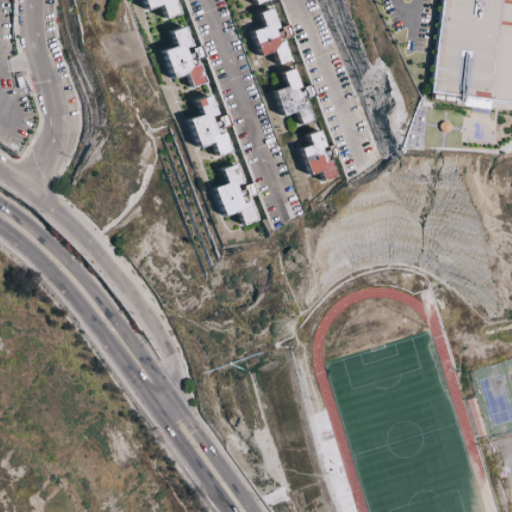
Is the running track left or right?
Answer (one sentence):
You can find the running track on the right side of the picture.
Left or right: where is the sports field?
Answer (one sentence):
It is on the right.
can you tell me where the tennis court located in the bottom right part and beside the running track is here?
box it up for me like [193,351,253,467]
[472,360,512,436]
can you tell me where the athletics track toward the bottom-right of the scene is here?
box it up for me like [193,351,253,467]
[314,276,496,512]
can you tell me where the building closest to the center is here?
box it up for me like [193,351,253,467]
[211,164,260,226]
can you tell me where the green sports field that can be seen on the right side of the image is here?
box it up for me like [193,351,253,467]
[327,332,483,512]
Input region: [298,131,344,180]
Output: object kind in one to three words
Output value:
building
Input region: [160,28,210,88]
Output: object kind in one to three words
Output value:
building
